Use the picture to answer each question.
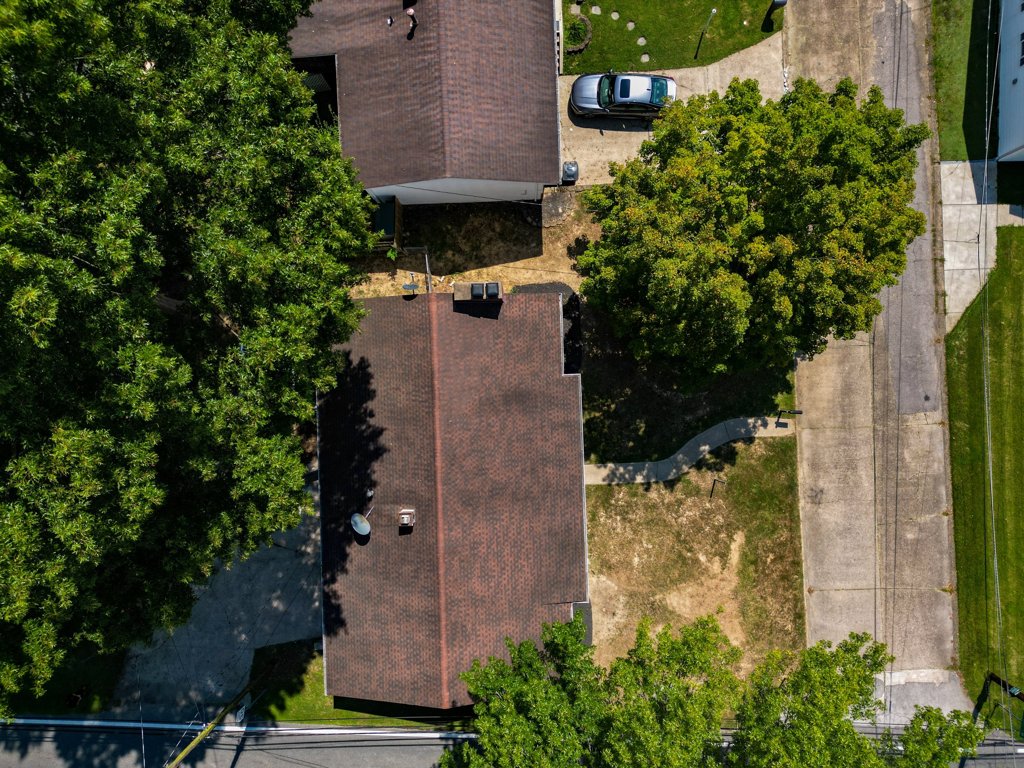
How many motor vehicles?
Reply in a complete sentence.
The picture shows 1 motor vehicle.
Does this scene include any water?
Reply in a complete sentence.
No, no water is visible.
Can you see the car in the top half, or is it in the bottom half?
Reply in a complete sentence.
Seen from above, the car lies in the top half of the view.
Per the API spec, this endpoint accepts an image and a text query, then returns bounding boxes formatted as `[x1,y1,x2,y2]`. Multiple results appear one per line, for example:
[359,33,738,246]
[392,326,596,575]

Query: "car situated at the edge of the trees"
[570,65,678,122]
